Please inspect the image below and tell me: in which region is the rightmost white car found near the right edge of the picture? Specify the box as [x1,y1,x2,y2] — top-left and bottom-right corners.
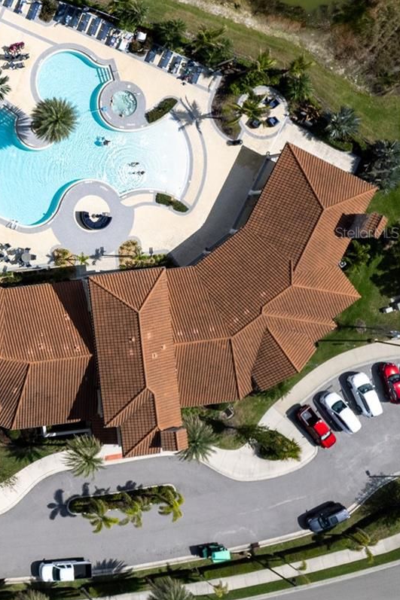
[351,374,386,418]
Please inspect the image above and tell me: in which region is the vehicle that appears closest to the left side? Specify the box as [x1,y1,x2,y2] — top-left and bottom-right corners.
[41,561,94,586]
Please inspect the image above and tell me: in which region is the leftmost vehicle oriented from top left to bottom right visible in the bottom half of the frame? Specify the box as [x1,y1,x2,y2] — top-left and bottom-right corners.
[299,404,341,449]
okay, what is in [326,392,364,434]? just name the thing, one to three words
car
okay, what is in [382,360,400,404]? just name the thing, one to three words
car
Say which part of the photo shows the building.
center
